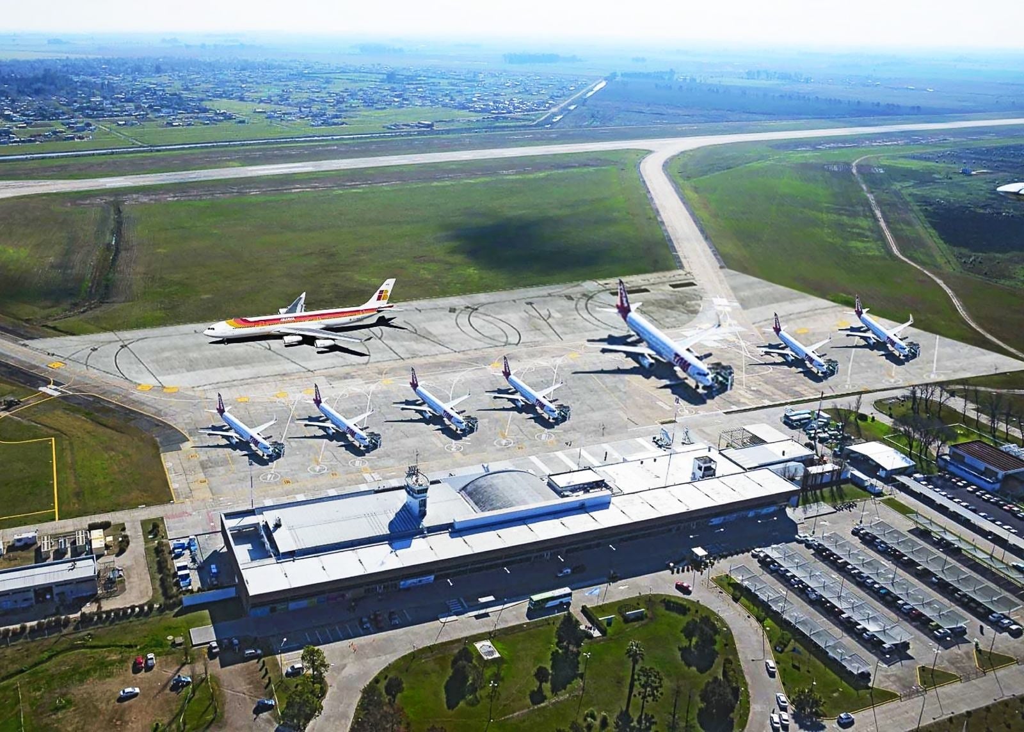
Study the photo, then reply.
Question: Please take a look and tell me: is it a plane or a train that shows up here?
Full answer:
It is a plane that can be seen here.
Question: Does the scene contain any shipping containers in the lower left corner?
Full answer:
No, I can find no shipping container in the lower left corner.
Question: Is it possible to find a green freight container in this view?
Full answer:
No, I can't see a single green freight container in this photo.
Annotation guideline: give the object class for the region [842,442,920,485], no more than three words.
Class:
hangar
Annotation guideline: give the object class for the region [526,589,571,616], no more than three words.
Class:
bus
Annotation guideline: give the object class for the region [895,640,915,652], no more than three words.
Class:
vehicle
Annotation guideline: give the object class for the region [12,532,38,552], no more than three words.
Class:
building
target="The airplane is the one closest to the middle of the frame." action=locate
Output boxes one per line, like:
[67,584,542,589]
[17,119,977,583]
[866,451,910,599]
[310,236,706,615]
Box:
[481,354,562,419]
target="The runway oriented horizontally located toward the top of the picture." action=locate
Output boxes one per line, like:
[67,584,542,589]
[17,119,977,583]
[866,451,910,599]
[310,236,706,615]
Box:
[0,119,1024,198]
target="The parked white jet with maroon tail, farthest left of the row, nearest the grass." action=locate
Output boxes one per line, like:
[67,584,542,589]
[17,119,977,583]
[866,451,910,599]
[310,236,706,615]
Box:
[195,391,275,457]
